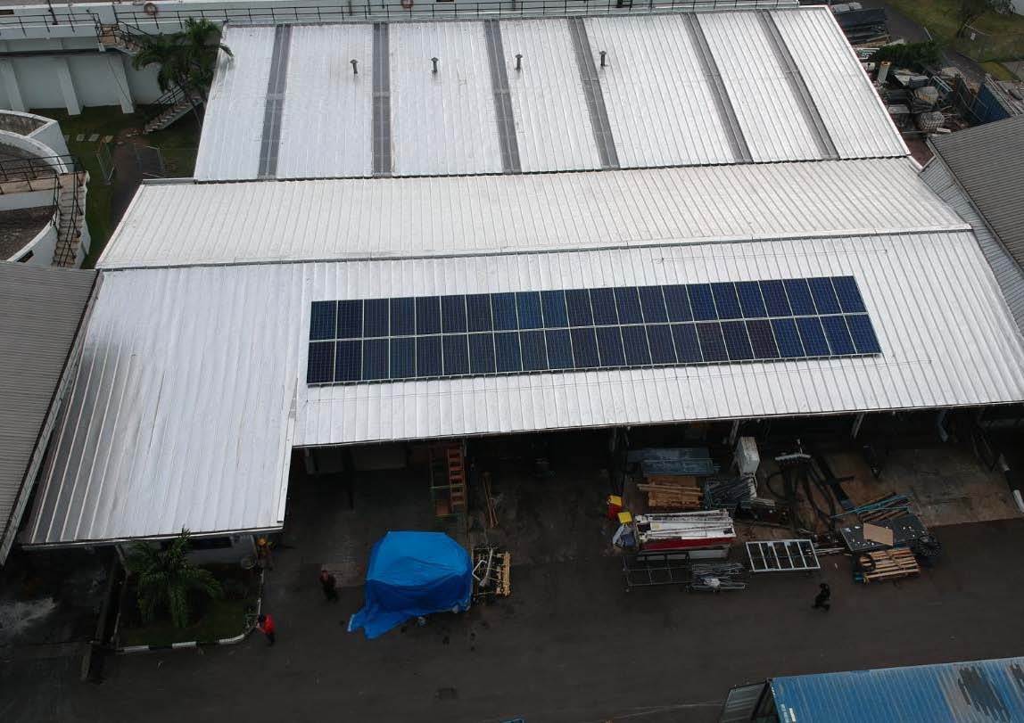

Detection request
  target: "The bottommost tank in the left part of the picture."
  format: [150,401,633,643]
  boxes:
[0,108,101,271]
